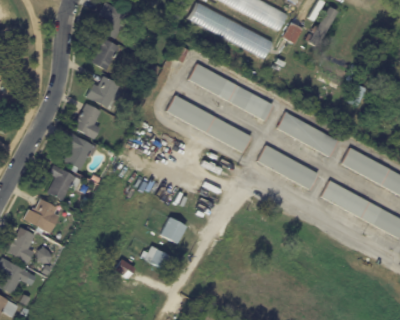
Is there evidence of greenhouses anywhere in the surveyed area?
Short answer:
Yes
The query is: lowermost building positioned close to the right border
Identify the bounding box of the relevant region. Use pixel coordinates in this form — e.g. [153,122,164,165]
[322,180,400,240]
